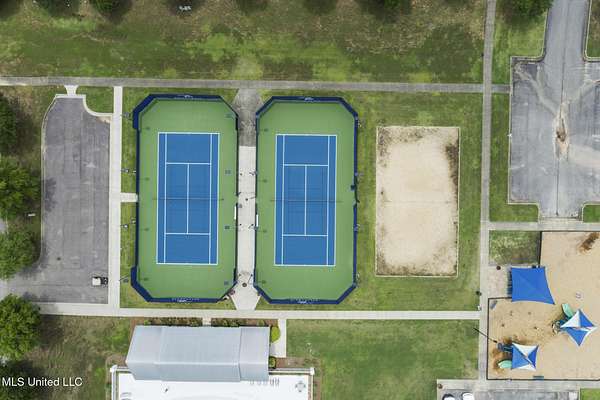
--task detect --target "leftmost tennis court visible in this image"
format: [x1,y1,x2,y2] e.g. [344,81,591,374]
[137,99,239,299]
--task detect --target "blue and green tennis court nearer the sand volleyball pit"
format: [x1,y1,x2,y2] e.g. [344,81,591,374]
[256,101,355,300]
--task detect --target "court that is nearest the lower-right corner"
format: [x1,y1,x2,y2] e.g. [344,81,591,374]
[376,126,460,277]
